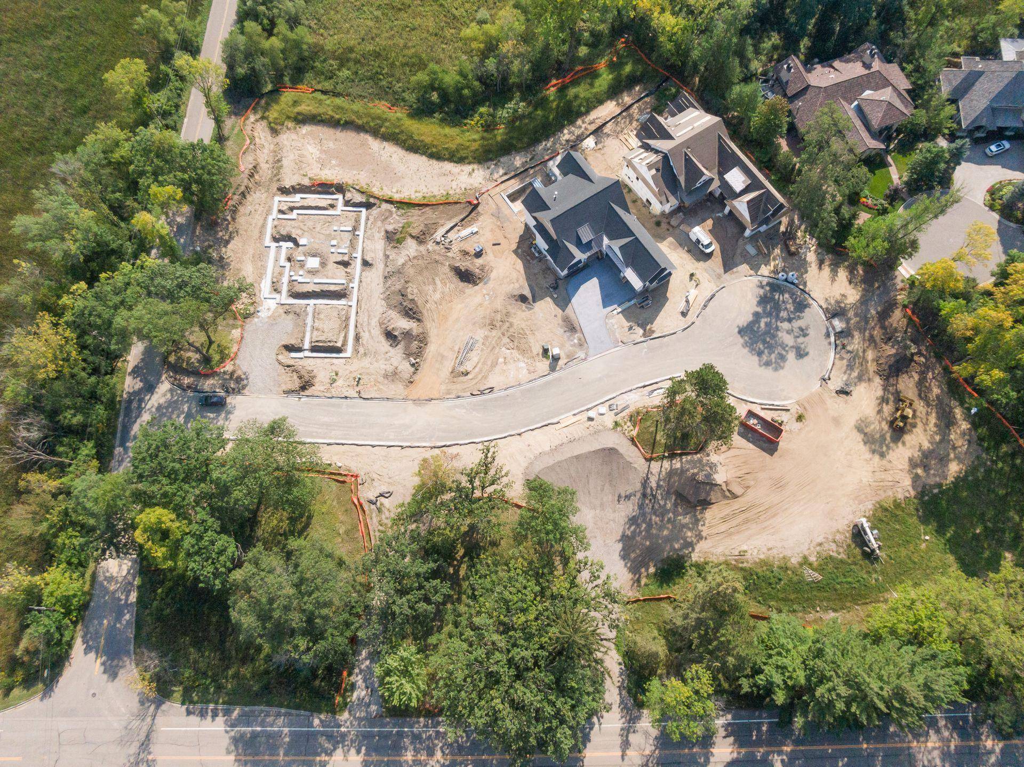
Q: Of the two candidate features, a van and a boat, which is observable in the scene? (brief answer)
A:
van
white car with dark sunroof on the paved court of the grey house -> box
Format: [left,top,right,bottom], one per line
[986,141,1012,158]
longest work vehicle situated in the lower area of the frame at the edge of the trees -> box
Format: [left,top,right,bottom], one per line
[857,523,890,573]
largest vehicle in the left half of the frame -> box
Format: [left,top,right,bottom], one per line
[198,394,226,407]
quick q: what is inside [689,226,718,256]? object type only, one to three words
van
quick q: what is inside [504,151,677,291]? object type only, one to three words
house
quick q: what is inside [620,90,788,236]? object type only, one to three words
house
